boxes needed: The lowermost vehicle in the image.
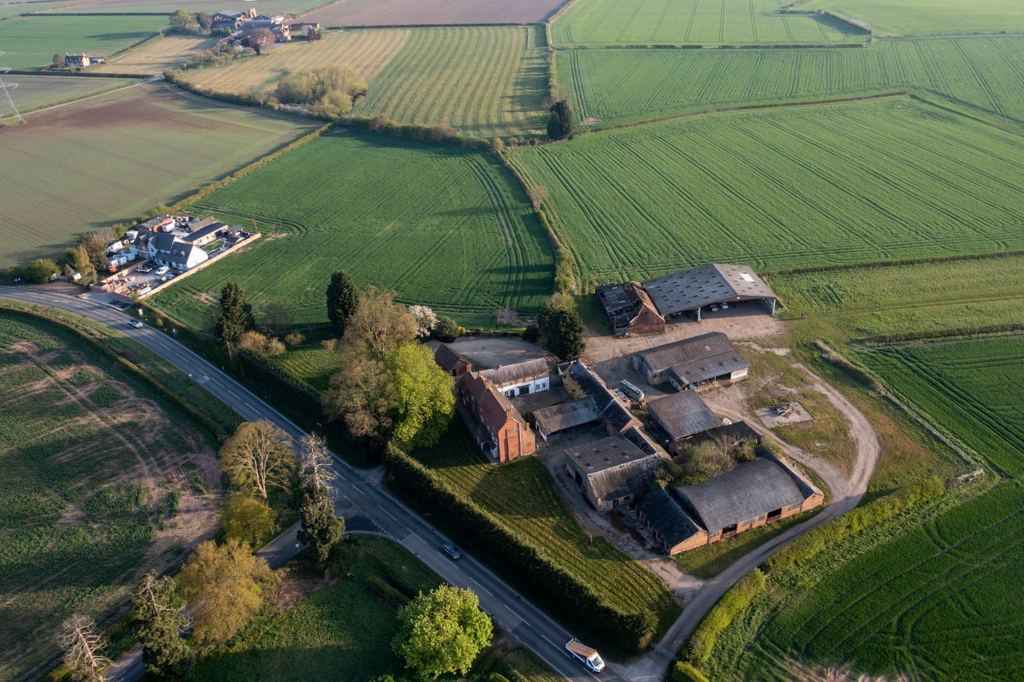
[568,646,604,673]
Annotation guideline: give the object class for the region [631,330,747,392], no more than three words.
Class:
barn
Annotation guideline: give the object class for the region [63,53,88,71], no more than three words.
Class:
house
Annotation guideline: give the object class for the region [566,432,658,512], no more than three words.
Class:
building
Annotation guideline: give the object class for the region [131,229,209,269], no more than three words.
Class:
house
